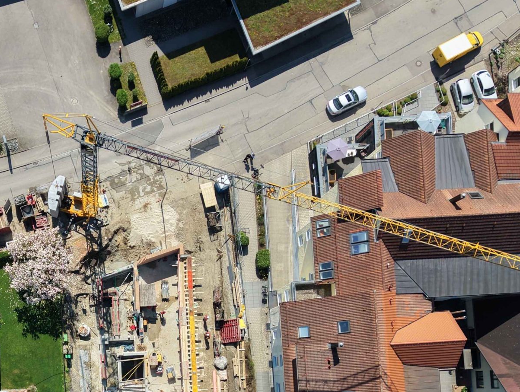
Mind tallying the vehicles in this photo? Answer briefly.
4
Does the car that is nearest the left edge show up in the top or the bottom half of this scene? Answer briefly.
top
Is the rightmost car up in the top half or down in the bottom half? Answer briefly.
top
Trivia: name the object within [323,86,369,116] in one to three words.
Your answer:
car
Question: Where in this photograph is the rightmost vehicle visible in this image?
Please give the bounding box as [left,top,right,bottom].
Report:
[470,67,497,107]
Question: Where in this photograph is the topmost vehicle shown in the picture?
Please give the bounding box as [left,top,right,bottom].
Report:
[428,28,484,71]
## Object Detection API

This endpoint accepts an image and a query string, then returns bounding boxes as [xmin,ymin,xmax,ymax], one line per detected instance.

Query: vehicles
[470,67,497,107]
[450,78,474,118]
[428,28,484,71]
[323,86,369,116]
